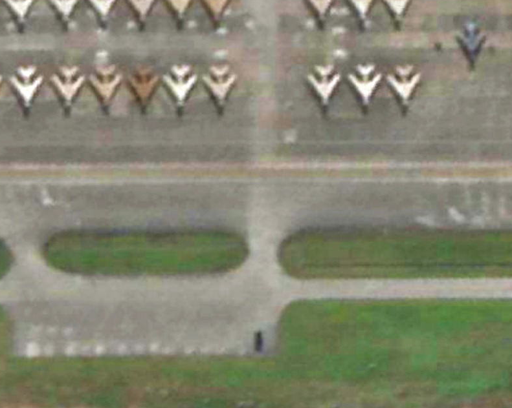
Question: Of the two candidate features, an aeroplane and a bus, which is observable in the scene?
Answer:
aeroplane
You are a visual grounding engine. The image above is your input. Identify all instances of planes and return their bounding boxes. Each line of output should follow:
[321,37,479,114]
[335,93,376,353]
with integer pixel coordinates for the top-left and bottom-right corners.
[90,0,114,24]
[350,0,372,23]
[130,0,154,25]
[204,64,237,109]
[168,0,192,24]
[6,0,32,25]
[10,66,44,110]
[310,0,333,24]
[309,64,341,109]
[164,65,197,109]
[52,0,78,25]
[349,65,381,109]
[389,65,421,109]
[387,0,410,24]
[52,66,85,110]
[127,66,161,110]
[89,65,122,109]
[205,0,229,24]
